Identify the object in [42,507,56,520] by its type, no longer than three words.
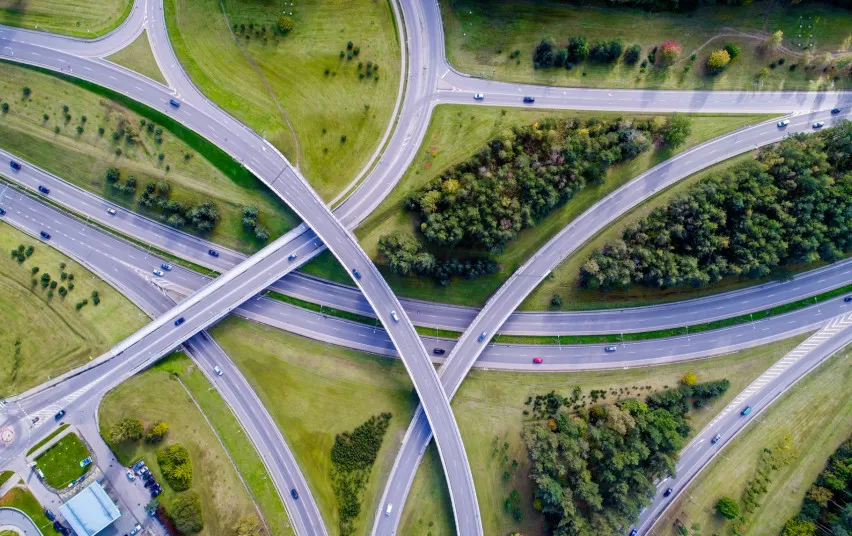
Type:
vehicle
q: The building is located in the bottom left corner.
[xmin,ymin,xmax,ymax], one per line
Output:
[58,479,123,536]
